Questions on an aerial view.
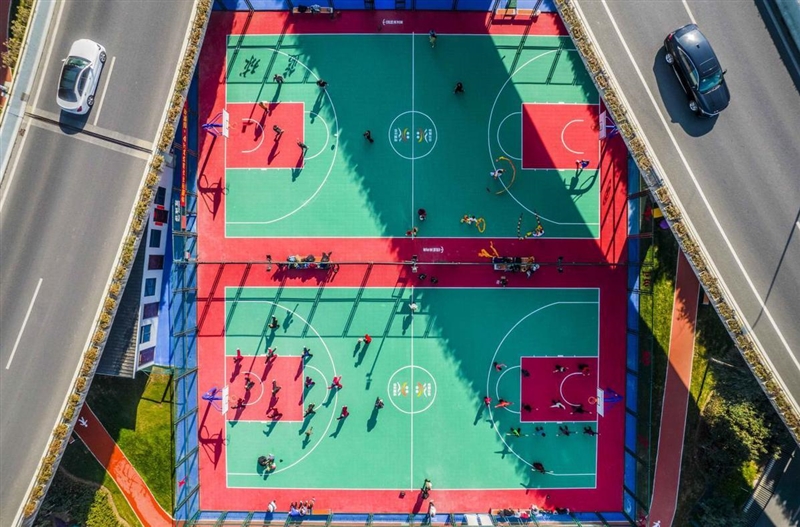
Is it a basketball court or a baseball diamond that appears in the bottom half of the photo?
basketball court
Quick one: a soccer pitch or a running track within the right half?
running track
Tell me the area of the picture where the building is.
left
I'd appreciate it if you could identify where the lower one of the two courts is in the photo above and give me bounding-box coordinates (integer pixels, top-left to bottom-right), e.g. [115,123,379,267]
[224,283,599,493]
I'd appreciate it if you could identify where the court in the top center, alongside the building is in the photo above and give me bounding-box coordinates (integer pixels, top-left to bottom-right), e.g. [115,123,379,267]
[224,31,601,242]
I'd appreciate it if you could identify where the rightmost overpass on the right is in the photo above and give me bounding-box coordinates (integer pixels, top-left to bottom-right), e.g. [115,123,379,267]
[548,0,800,451]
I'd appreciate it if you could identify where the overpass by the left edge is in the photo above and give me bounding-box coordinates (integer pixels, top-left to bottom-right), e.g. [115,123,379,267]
[0,0,216,527]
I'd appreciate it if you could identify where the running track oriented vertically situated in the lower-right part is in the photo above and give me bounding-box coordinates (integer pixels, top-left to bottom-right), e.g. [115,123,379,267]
[647,247,700,527]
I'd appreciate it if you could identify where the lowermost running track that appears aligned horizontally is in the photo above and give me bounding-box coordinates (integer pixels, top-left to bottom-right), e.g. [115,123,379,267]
[73,401,642,527]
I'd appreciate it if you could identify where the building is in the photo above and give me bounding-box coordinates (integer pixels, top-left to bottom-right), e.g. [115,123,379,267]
[94,155,172,379]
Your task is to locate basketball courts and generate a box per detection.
[224,31,601,242]
[224,283,599,493]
